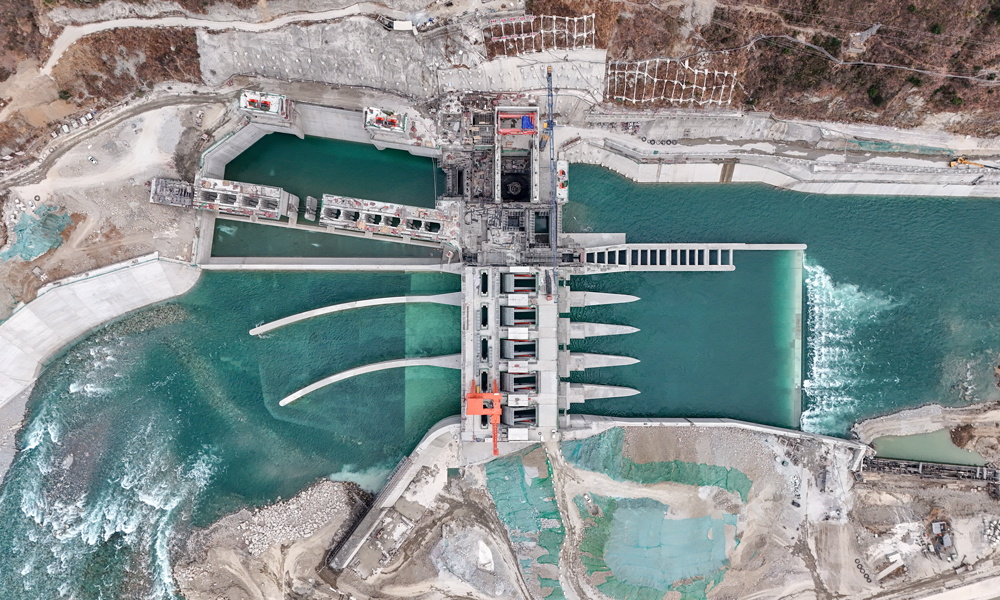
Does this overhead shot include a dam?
Yes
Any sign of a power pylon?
Yes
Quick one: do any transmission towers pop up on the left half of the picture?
No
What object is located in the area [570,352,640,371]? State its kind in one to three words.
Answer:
pier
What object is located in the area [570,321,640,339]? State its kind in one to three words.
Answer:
pier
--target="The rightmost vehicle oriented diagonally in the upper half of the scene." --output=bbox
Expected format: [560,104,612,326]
[195,128,211,145]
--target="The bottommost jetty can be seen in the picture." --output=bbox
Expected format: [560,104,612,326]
[570,382,640,404]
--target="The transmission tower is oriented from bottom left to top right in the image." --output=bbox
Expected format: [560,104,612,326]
[849,16,889,51]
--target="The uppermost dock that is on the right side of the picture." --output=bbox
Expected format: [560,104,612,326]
[570,290,640,307]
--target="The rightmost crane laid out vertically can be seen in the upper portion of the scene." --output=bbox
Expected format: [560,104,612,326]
[541,68,558,254]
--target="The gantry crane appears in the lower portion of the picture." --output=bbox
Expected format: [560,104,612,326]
[466,378,502,456]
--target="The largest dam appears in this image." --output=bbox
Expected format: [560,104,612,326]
[461,266,640,442]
